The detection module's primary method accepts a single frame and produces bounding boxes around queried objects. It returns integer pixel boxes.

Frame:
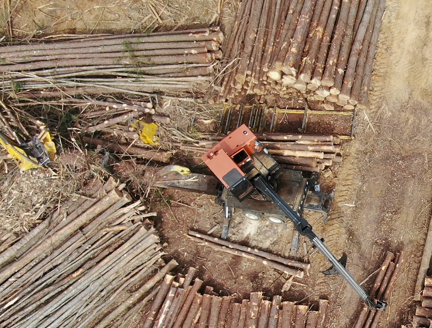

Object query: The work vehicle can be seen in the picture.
[143,125,397,314]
